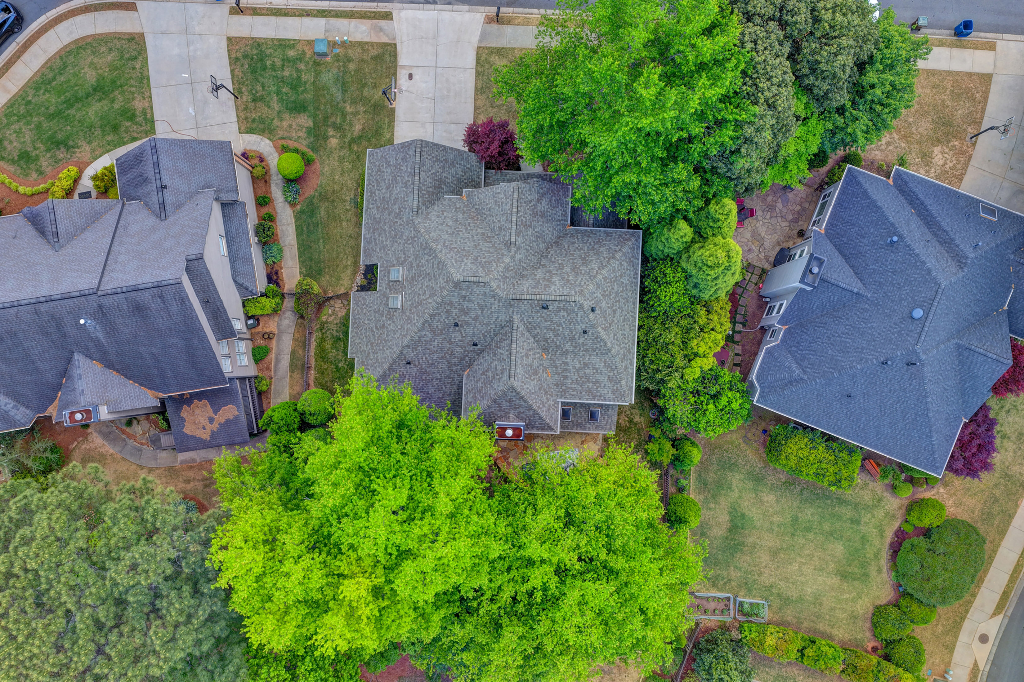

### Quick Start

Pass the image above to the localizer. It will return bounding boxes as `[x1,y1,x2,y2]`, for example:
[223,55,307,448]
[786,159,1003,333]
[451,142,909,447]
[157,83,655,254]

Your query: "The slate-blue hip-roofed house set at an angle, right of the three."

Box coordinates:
[742,163,1024,479]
